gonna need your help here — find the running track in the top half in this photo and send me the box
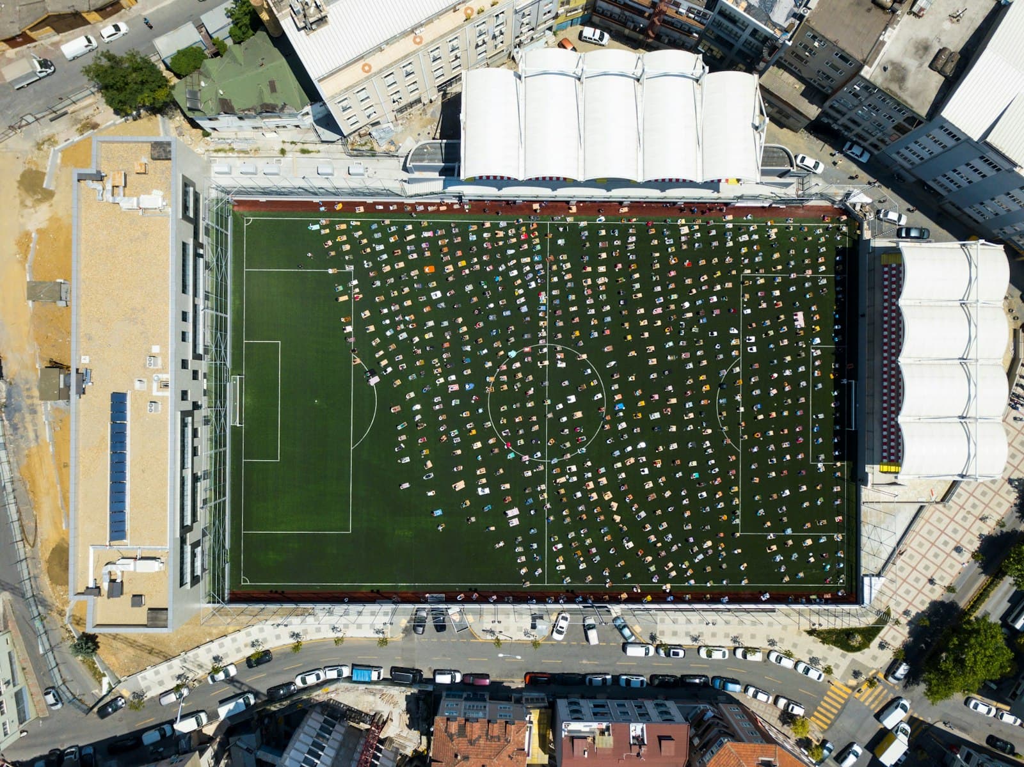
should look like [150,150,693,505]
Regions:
[231,201,857,219]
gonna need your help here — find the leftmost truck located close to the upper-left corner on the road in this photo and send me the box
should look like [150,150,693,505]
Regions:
[4,56,56,91]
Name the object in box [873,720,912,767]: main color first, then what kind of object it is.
white truck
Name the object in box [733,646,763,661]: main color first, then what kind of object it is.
white car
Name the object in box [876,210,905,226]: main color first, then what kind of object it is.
white car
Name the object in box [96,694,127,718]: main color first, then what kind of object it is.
black car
